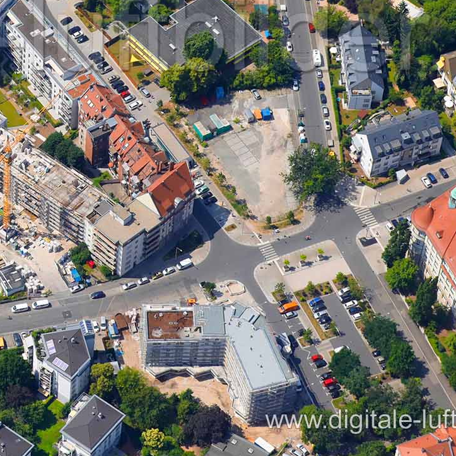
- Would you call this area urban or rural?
urban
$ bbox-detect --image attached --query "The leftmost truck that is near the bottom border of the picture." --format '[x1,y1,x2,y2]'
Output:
[250,429,281,456]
